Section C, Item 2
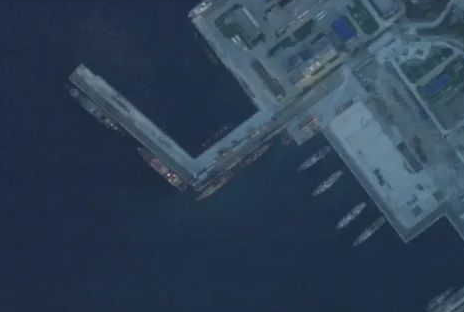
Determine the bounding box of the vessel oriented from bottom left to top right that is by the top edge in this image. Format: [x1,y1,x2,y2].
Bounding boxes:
[188,0,214,15]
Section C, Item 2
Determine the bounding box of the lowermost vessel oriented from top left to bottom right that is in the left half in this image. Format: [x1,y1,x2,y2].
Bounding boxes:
[138,147,189,193]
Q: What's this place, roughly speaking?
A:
port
